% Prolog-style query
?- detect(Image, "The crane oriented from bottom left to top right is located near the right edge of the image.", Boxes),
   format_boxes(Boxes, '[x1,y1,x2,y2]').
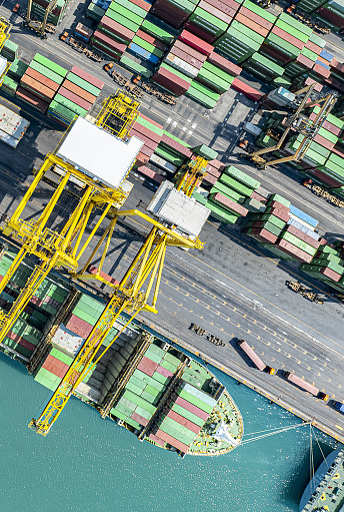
[245,81,343,168]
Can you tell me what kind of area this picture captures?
port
